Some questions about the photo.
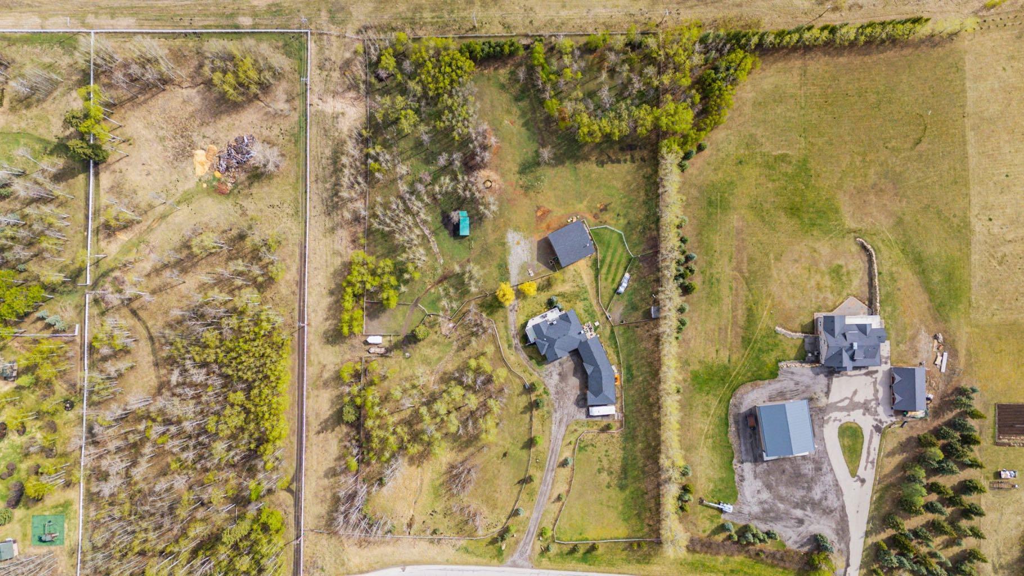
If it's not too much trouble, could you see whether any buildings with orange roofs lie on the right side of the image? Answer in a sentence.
No, I can find no building with an orange roof on the right side of the image.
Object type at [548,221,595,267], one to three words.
building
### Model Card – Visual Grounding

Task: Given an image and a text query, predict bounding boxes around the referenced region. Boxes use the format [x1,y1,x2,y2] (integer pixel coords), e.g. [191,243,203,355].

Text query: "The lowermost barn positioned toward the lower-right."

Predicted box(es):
[754,399,816,461]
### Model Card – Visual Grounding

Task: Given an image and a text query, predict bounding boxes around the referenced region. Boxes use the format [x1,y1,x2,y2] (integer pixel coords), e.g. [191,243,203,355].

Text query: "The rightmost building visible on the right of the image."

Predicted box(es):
[887,366,926,411]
